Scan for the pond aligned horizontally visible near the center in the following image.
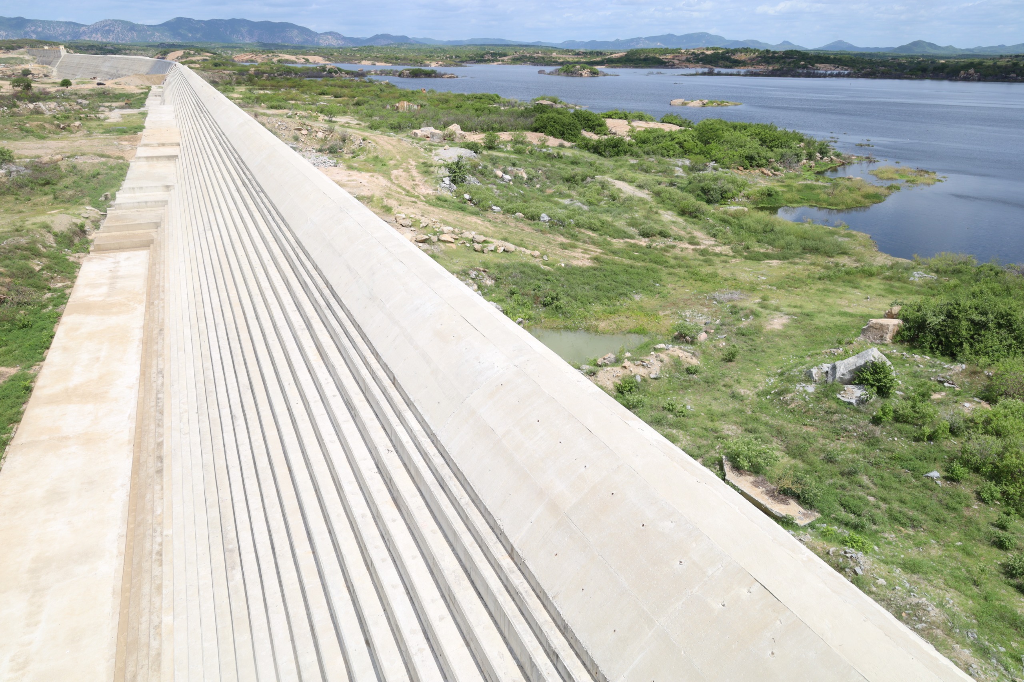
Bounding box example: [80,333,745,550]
[524,327,639,367]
